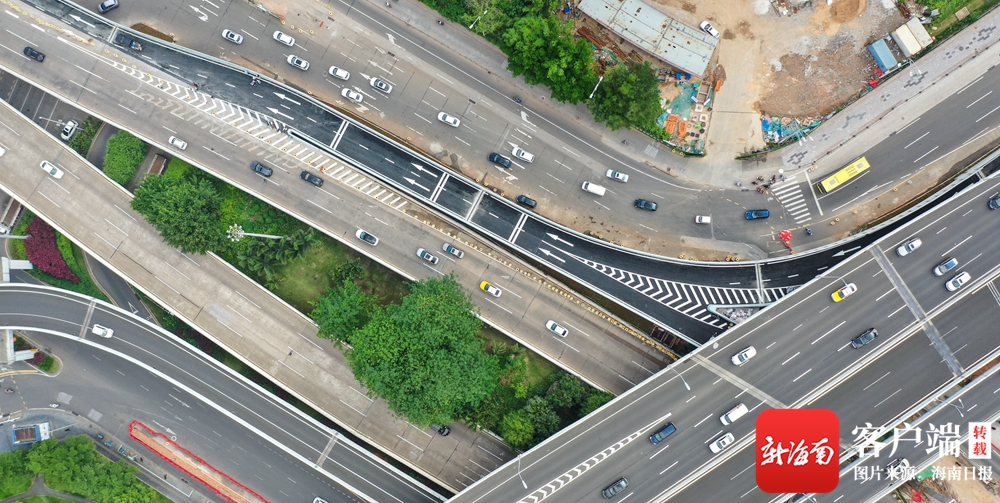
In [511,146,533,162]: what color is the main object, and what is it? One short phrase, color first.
white car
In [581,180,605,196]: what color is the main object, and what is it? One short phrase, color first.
white vehicle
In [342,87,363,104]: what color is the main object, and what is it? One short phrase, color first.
white car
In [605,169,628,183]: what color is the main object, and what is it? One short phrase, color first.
white vehicle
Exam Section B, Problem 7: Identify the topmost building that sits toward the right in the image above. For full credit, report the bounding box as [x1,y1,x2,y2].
[566,0,720,78]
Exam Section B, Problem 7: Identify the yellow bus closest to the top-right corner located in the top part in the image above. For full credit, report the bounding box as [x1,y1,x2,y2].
[813,158,869,194]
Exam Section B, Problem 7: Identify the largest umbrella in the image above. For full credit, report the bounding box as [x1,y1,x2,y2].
[777,229,791,241]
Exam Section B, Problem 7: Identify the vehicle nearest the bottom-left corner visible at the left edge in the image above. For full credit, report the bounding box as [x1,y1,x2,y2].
[12,424,51,444]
